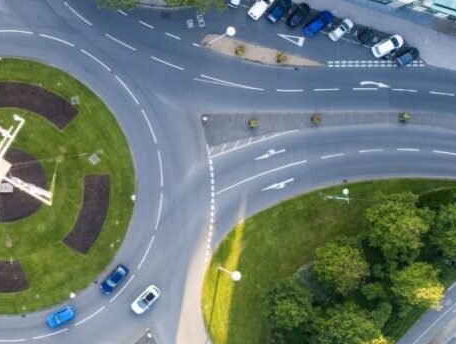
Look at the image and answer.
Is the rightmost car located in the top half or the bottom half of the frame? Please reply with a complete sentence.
The rightmost car is in the top half of the image.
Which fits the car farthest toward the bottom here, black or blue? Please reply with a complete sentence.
The car farthest toward the bottom is blue.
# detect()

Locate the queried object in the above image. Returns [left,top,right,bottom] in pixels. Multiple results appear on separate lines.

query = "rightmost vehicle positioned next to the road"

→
[395,45,422,68]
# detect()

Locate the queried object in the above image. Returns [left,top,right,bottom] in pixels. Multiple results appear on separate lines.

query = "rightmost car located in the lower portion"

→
[130,284,163,317]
